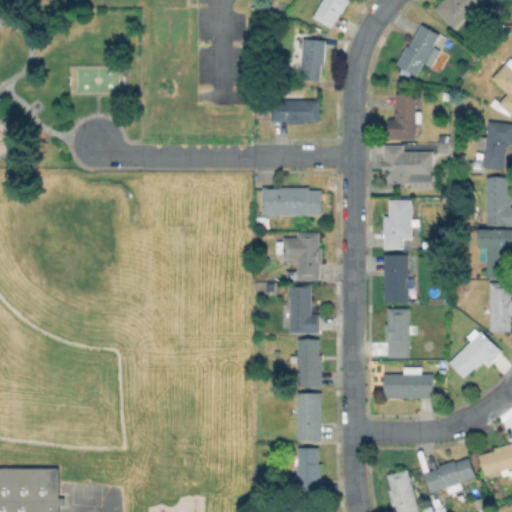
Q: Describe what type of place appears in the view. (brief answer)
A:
residential area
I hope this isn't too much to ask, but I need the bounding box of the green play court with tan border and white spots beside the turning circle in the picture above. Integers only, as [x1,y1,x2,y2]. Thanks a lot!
[70,66,124,95]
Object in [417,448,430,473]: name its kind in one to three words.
vehicle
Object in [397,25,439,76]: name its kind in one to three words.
house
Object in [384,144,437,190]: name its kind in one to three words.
house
